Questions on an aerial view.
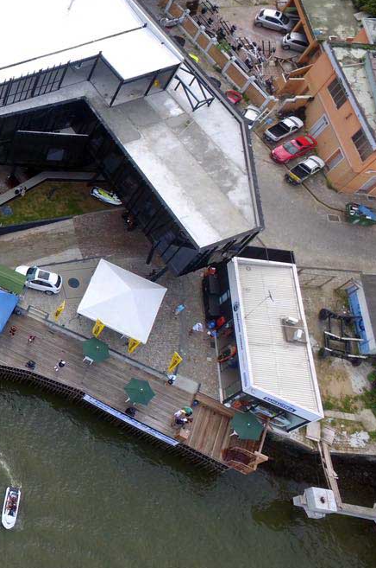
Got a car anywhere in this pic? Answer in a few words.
Yes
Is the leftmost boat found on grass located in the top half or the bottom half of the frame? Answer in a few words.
top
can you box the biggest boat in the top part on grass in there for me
[90,186,123,206]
